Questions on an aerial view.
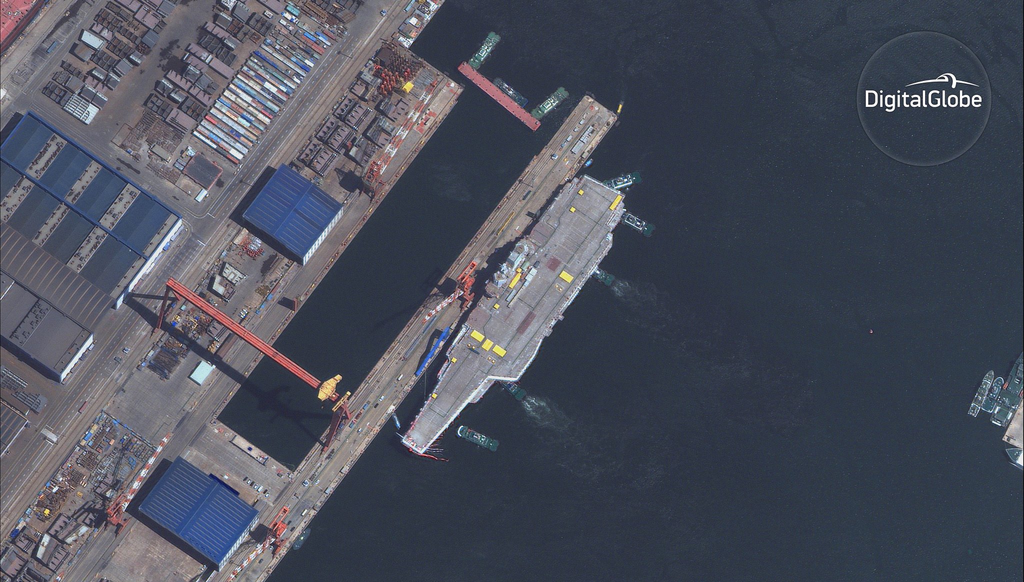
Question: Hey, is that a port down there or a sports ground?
port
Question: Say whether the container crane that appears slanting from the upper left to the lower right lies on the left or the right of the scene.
left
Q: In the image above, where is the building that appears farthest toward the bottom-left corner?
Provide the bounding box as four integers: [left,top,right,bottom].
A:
[0,402,28,461]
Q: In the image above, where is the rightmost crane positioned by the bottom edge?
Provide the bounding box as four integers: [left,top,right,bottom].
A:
[226,505,292,582]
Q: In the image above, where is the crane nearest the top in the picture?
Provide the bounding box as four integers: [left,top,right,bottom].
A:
[358,79,438,205]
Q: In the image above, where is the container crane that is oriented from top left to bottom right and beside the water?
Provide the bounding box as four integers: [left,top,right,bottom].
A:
[153,277,354,454]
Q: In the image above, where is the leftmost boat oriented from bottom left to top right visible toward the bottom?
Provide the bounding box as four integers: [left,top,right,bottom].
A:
[292,527,311,551]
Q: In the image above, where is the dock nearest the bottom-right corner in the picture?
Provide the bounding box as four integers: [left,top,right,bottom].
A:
[1002,397,1024,448]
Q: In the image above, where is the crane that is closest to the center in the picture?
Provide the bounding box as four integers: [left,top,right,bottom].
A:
[422,261,479,322]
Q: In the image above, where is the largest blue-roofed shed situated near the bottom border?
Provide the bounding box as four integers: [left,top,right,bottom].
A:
[138,457,259,570]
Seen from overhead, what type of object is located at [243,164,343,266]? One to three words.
shed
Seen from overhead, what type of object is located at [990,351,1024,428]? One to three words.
ship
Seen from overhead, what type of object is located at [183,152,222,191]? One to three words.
building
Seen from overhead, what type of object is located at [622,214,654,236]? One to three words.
boat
